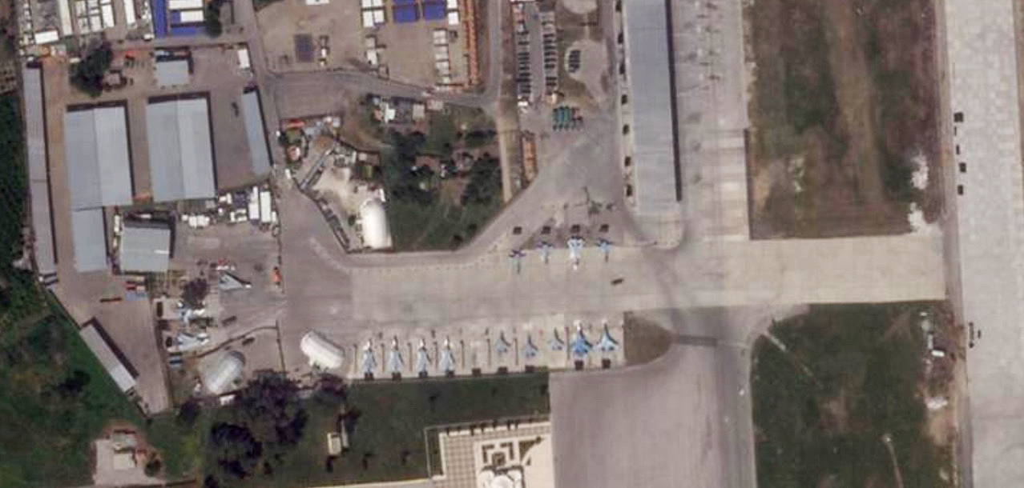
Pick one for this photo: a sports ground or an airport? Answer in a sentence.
This image shows an airport.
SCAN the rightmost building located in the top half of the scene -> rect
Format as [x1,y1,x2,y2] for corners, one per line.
[623,0,678,214]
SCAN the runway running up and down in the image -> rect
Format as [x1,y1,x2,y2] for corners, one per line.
[947,0,1024,488]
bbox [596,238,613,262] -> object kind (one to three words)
airplane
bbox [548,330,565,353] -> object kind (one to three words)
airplane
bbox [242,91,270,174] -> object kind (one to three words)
shed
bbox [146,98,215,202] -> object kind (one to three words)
building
